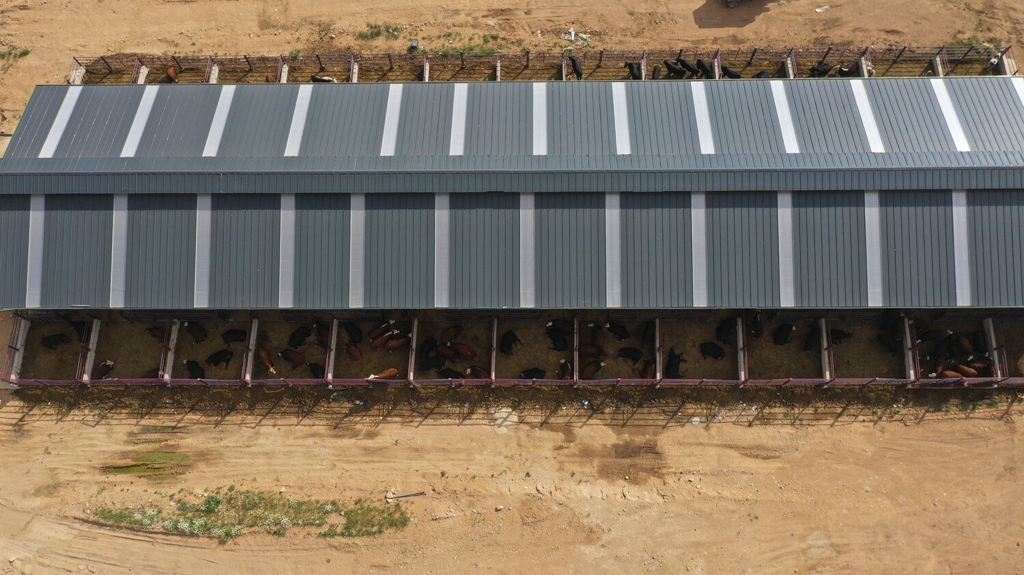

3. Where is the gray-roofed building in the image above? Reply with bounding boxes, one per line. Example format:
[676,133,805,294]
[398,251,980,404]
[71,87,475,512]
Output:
[0,74,1024,320]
